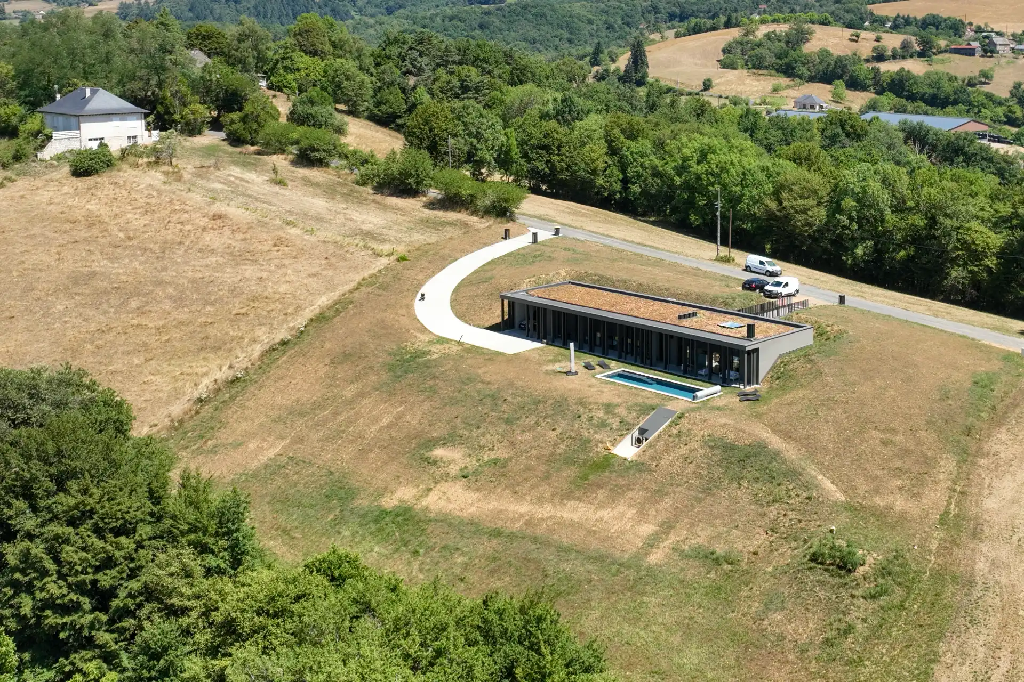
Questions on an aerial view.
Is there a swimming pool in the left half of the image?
No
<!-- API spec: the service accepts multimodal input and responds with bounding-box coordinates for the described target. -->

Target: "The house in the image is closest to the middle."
[500,281,813,390]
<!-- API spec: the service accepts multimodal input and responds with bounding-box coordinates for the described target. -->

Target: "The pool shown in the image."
[595,369,723,403]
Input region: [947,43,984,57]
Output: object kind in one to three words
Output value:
barn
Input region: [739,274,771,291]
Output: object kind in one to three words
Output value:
car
